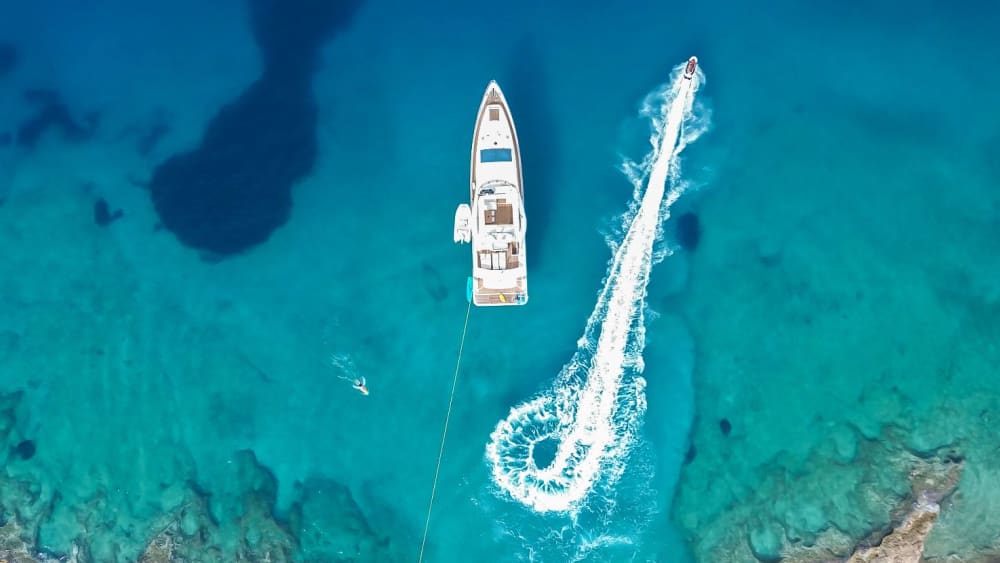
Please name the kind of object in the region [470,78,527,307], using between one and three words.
boat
